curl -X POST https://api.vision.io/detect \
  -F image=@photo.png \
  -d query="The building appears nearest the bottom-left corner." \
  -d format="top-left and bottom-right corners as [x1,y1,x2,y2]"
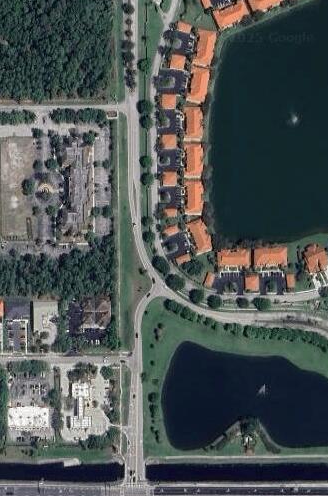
[6,408,49,429]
